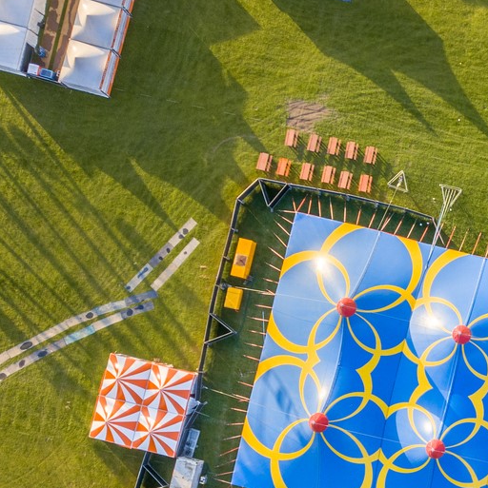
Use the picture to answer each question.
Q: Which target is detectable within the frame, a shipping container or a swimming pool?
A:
shipping container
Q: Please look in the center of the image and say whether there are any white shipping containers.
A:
No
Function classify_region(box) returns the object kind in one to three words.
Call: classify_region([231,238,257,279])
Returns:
shipping container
